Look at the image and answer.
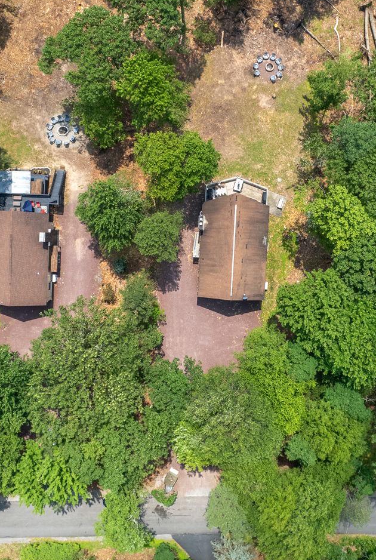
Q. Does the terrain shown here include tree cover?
Yes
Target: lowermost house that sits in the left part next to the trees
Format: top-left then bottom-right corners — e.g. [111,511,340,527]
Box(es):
[0,211,62,307]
